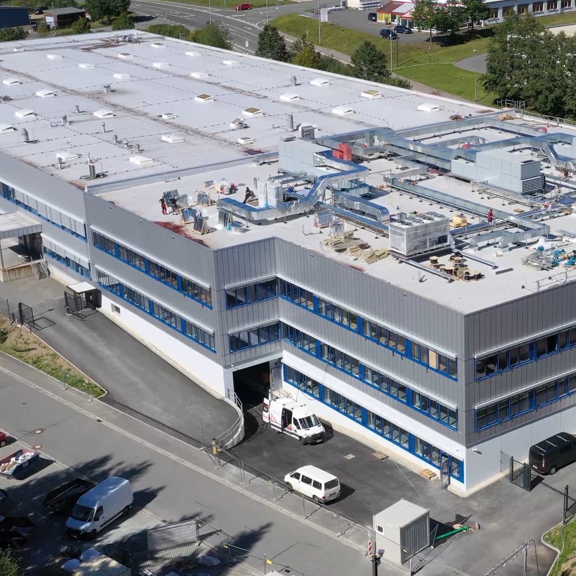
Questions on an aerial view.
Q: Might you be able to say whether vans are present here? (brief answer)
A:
Yes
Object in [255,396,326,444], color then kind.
white van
